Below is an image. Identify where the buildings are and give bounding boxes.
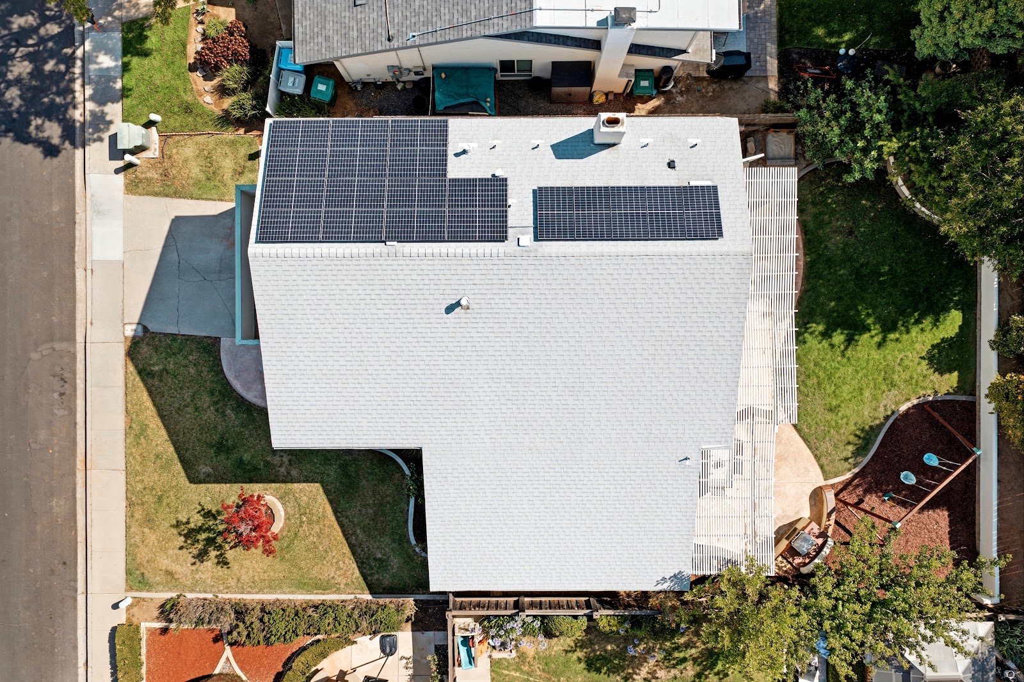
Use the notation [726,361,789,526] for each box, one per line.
[236,116,767,593]
[294,0,743,98]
